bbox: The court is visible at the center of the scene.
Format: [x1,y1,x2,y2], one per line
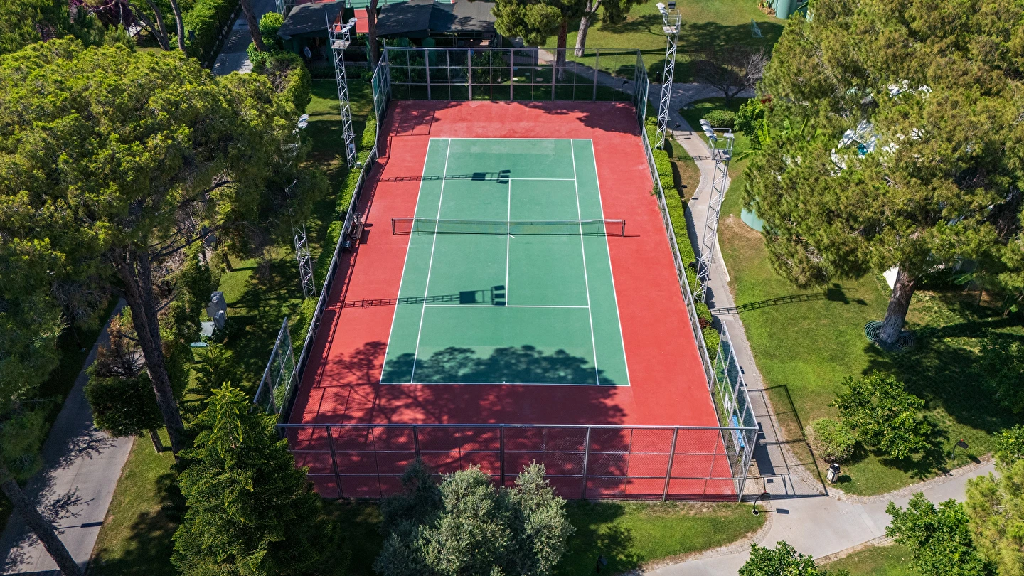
[278,99,740,503]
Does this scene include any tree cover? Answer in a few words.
Yes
